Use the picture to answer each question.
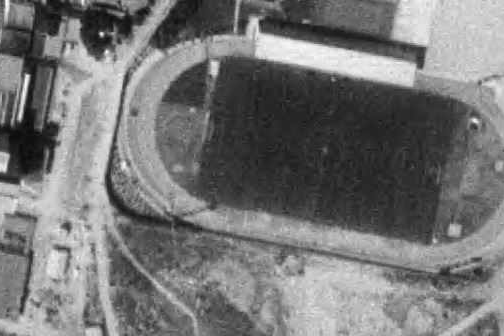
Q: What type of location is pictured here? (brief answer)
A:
sports ground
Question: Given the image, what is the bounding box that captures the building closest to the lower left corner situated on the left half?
[0,247,30,314]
